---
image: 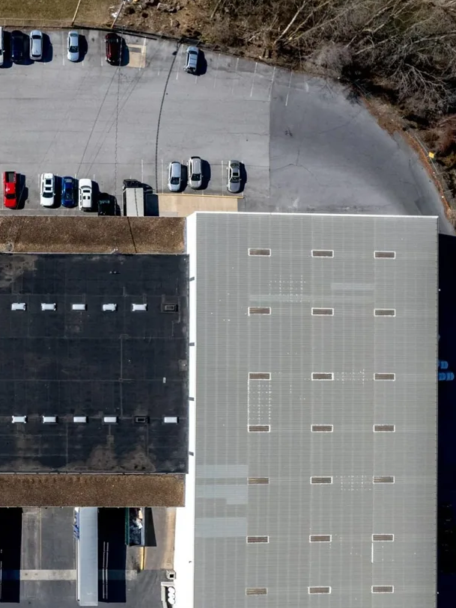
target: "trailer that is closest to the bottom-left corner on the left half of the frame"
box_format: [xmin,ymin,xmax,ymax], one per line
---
[74,506,98,606]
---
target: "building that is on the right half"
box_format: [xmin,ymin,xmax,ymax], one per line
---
[174,212,437,608]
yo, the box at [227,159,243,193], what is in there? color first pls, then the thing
gray car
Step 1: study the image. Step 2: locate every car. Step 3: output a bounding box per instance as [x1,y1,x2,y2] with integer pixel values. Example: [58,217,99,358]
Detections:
[105,32,122,67]
[65,29,82,63]
[9,29,26,63]
[0,26,6,67]
[29,30,44,61]
[78,178,95,212]
[61,175,76,207]
[188,157,205,189]
[227,159,243,193]
[167,161,184,192]
[185,46,201,75]
[98,191,115,216]
[39,172,56,207]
